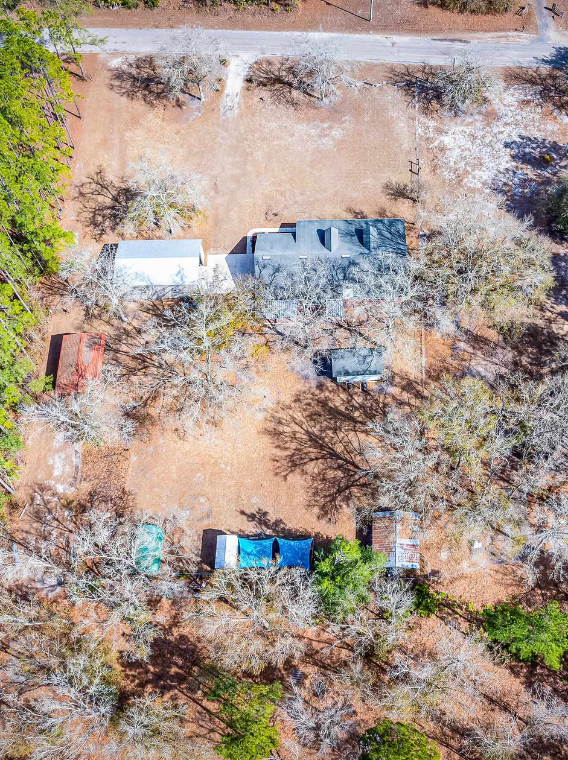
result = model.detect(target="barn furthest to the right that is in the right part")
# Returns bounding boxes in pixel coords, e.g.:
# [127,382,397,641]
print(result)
[372,510,421,574]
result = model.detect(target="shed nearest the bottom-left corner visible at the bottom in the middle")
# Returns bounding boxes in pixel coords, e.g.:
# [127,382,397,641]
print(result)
[215,533,240,574]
